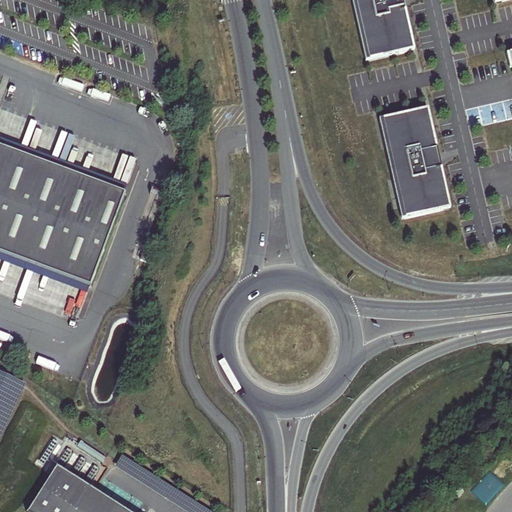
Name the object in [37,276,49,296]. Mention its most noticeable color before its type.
white vehicle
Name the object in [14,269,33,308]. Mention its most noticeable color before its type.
white vehicle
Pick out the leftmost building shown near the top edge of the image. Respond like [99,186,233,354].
[350,0,414,62]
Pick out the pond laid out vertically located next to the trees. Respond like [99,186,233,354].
[87,313,134,410]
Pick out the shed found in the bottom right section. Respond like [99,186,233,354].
[471,472,506,506]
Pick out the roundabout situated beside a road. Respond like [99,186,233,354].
[212,268,363,419]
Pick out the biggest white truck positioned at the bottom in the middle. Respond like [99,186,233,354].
[220,358,244,398]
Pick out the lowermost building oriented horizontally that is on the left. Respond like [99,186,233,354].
[26,464,132,512]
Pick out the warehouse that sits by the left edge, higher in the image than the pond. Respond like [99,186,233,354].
[0,137,127,294]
